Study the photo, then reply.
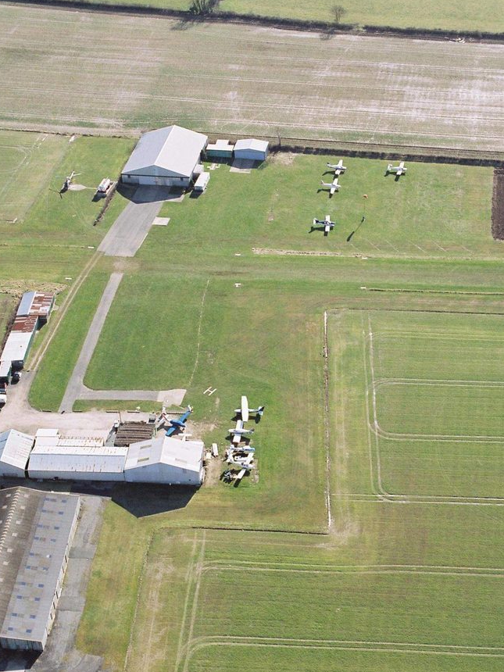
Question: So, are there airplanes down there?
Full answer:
Yes, an airplane appears in the view.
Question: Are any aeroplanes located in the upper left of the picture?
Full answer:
No, there is no aeroplane in the upper left of the picture.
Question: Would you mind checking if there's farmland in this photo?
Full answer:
Yes, the picture does contain farmland.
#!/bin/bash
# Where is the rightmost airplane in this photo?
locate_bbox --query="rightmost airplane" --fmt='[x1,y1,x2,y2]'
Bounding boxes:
[387,160,406,174]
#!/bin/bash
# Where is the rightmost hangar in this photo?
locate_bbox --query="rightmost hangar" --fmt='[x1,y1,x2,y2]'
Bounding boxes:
[234,137,269,160]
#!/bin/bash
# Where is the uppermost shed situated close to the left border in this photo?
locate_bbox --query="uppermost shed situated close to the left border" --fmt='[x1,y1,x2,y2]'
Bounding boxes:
[13,290,54,322]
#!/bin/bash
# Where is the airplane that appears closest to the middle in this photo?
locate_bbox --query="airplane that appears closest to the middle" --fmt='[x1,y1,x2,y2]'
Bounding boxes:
[236,395,265,421]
